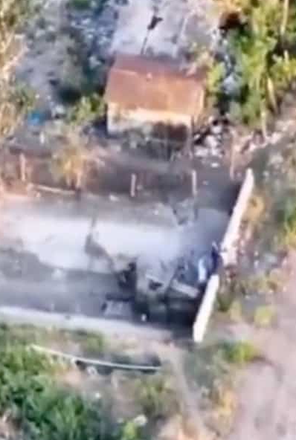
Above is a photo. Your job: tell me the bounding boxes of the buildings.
[104,64,205,146]
[94,0,222,62]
